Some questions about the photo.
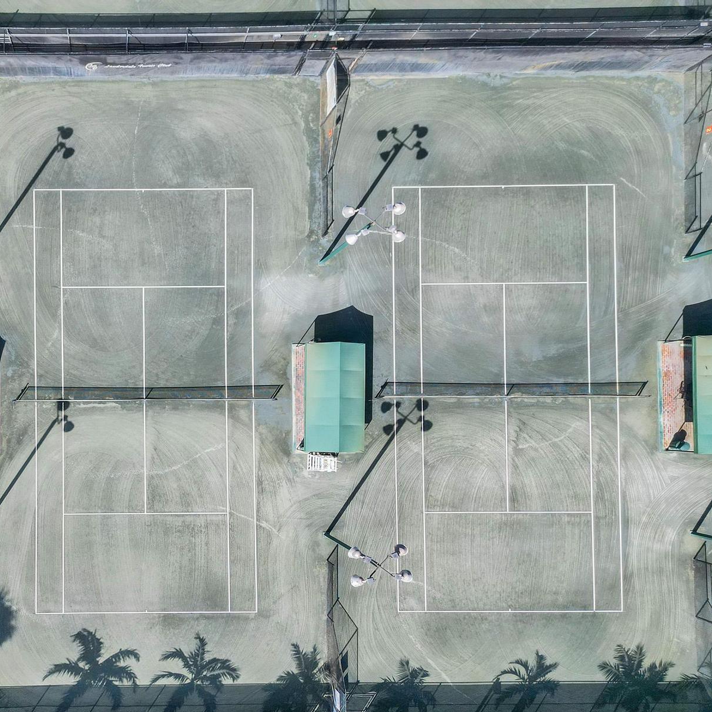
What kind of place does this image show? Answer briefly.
sports ground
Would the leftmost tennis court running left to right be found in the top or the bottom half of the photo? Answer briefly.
top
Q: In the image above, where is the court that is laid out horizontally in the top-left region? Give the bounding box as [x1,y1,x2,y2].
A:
[0,0,324,52]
